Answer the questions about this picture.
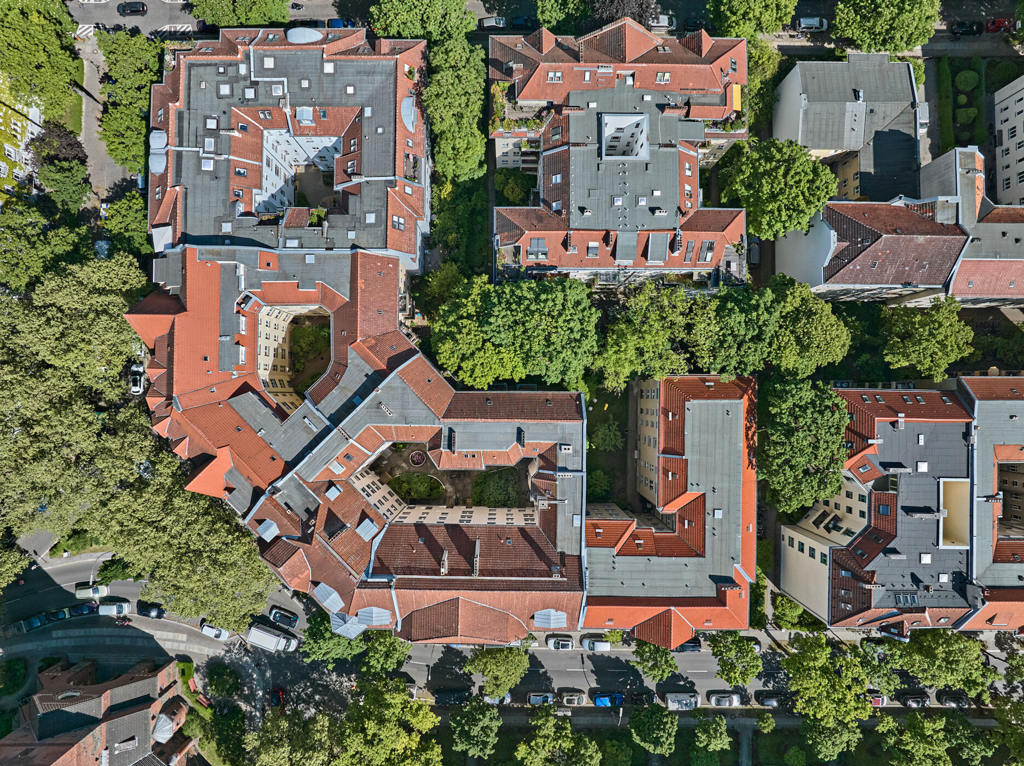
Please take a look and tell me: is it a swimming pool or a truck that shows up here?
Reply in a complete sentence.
The one in the frame is a truck.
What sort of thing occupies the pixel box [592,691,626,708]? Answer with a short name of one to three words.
car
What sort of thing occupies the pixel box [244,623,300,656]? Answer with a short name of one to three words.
truck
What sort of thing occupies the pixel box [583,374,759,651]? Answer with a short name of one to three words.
house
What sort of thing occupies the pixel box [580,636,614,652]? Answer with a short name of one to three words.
car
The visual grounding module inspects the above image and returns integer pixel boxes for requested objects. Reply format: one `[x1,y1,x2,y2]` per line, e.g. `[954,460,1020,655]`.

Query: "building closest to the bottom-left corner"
[0,652,202,766]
